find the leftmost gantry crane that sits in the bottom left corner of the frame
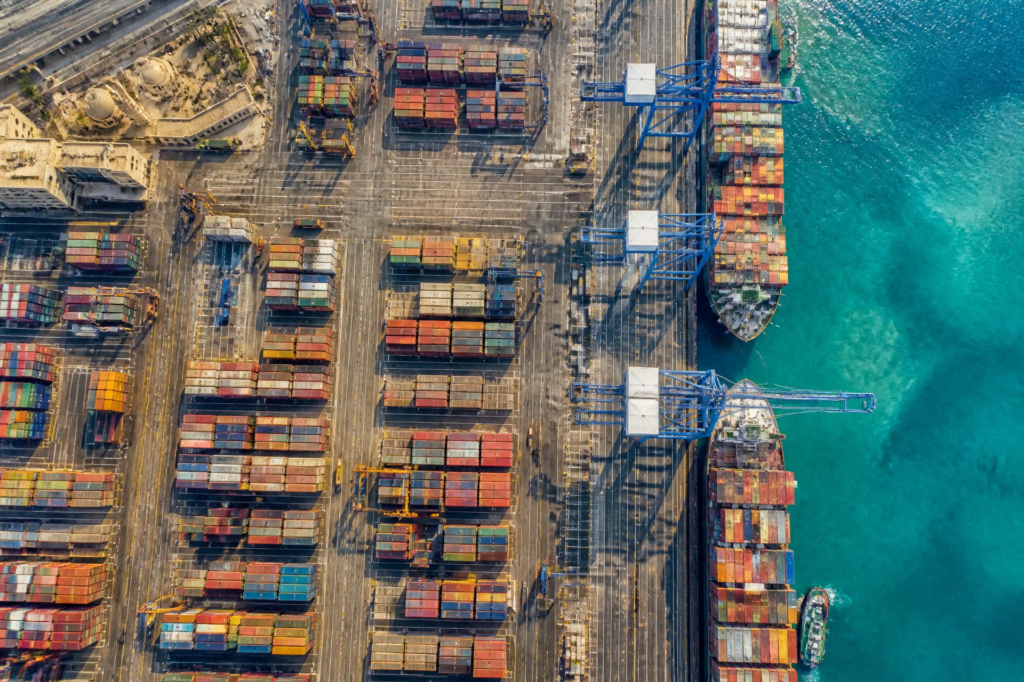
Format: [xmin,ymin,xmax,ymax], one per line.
[135,576,206,626]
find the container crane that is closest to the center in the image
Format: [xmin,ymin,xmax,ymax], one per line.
[489,261,550,308]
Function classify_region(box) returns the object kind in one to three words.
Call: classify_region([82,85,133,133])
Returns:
building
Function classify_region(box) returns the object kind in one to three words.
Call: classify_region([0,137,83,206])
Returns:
building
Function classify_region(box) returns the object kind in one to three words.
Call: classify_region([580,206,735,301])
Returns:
container crane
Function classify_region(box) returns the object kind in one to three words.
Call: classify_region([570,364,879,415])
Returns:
container crane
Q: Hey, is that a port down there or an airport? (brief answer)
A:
port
